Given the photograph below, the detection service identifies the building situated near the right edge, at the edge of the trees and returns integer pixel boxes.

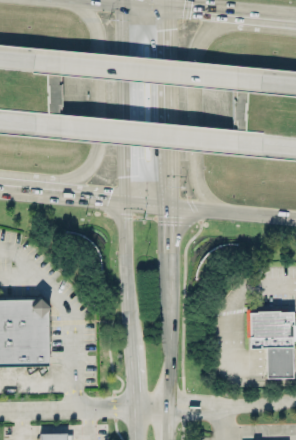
[248,310,296,378]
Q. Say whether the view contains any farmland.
No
